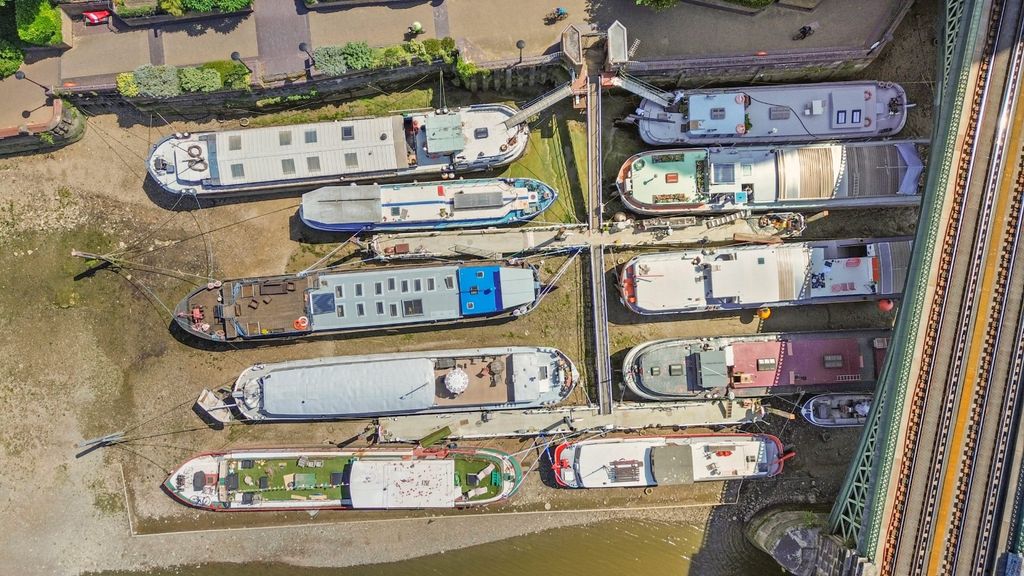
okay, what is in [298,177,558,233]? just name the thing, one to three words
boat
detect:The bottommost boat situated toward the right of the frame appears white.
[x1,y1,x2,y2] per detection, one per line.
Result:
[550,429,801,491]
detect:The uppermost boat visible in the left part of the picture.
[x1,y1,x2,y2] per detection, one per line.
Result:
[145,103,529,195]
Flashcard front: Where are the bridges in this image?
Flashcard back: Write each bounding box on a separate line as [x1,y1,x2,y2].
[822,0,1024,576]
